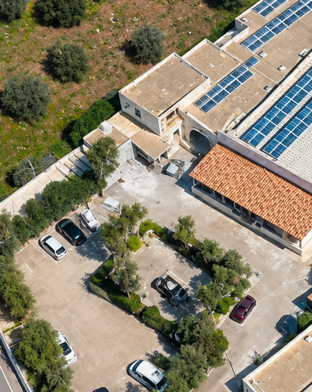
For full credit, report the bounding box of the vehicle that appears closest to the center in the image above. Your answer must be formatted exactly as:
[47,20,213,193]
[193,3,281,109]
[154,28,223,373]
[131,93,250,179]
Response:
[92,188,127,215]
